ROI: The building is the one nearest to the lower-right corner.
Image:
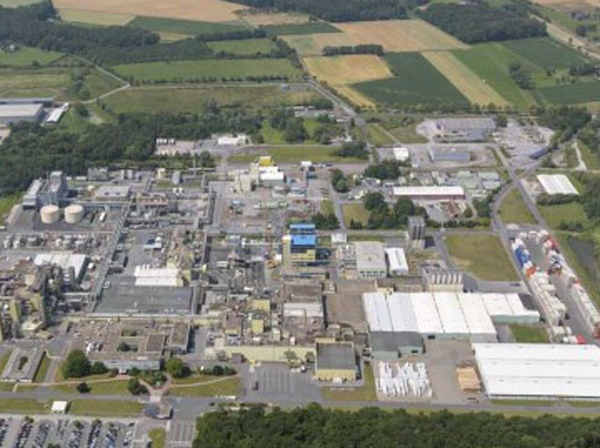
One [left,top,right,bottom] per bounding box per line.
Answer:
[472,343,600,402]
